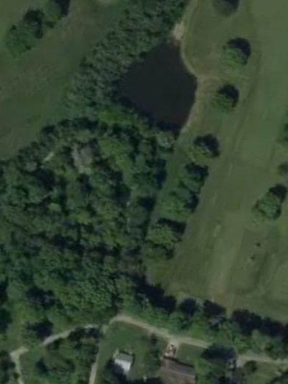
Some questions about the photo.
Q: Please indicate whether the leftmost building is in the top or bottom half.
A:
bottom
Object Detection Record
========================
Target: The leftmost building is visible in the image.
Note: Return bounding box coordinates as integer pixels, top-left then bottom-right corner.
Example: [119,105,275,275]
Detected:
[112,353,133,374]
